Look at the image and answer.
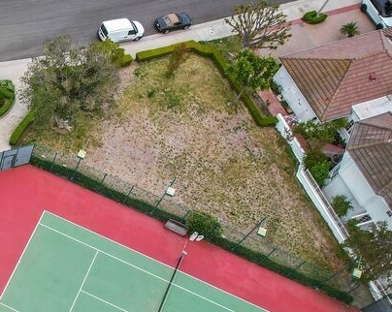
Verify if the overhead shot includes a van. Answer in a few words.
Yes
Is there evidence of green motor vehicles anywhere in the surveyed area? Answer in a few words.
No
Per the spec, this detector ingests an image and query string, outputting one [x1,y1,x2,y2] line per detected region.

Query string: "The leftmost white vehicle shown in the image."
[97,13,149,44]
